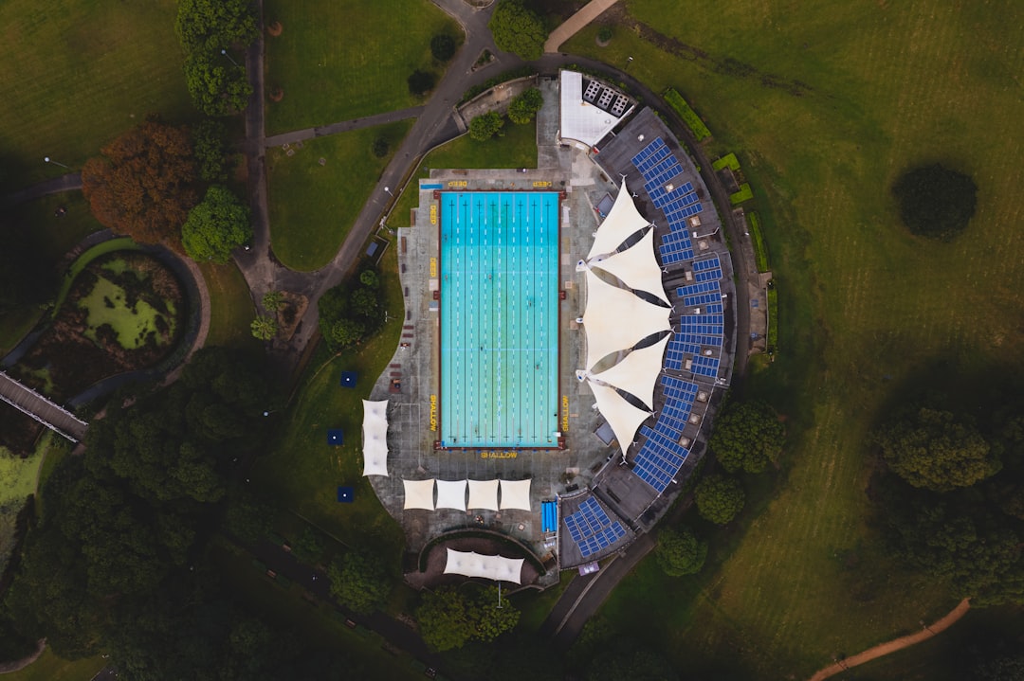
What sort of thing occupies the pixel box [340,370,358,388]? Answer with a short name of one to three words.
umbrella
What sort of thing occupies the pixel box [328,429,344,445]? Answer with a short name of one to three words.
umbrella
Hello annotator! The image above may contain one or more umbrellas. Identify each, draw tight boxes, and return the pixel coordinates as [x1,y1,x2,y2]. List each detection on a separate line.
[340,370,358,388]
[337,486,354,503]
[328,429,344,445]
